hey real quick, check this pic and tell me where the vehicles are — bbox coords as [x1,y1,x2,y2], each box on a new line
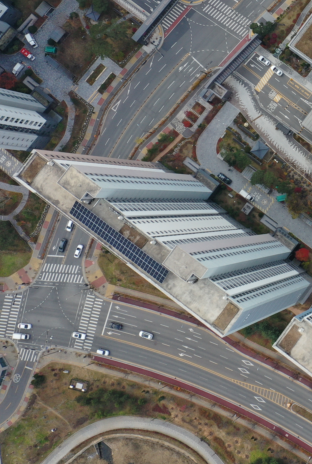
[58,238,68,252]
[72,333,87,339]
[139,331,153,340]
[237,189,255,201]
[95,349,111,356]
[21,32,37,48]
[10,333,30,340]
[217,173,231,184]
[12,60,23,77]
[66,222,73,233]
[74,244,85,258]
[109,322,124,329]
[258,55,271,67]
[19,48,35,59]
[17,323,33,331]
[270,65,283,76]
